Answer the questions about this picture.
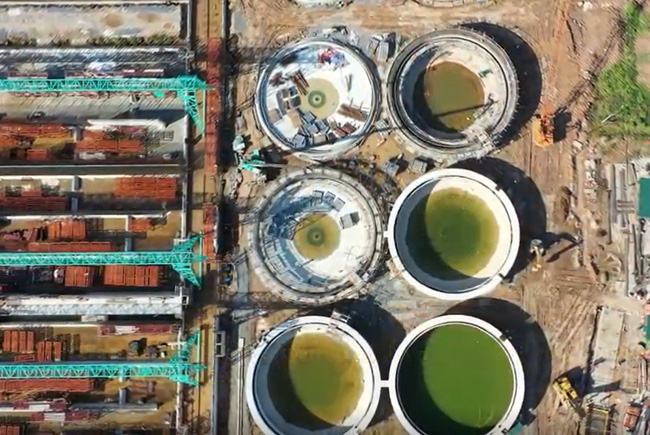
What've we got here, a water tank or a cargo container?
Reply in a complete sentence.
It is a water tank that can be seen here.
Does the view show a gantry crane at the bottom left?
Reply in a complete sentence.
Yes, the scene does show a gantry crane at the bottom left.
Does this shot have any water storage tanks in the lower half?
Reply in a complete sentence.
Yes, looking in the lower half, one can make out a water storage tank.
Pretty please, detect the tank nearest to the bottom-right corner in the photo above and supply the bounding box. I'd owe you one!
[385,311,525,435]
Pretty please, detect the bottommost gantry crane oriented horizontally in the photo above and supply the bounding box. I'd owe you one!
[0,328,205,390]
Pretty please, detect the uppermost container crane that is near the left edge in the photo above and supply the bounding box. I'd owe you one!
[0,76,213,135]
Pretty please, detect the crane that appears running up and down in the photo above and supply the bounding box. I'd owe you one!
[526,20,566,145]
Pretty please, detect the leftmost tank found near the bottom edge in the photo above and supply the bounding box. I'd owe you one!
[245,312,383,435]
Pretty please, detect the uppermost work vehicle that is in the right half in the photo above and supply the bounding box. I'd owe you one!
[525,234,553,266]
